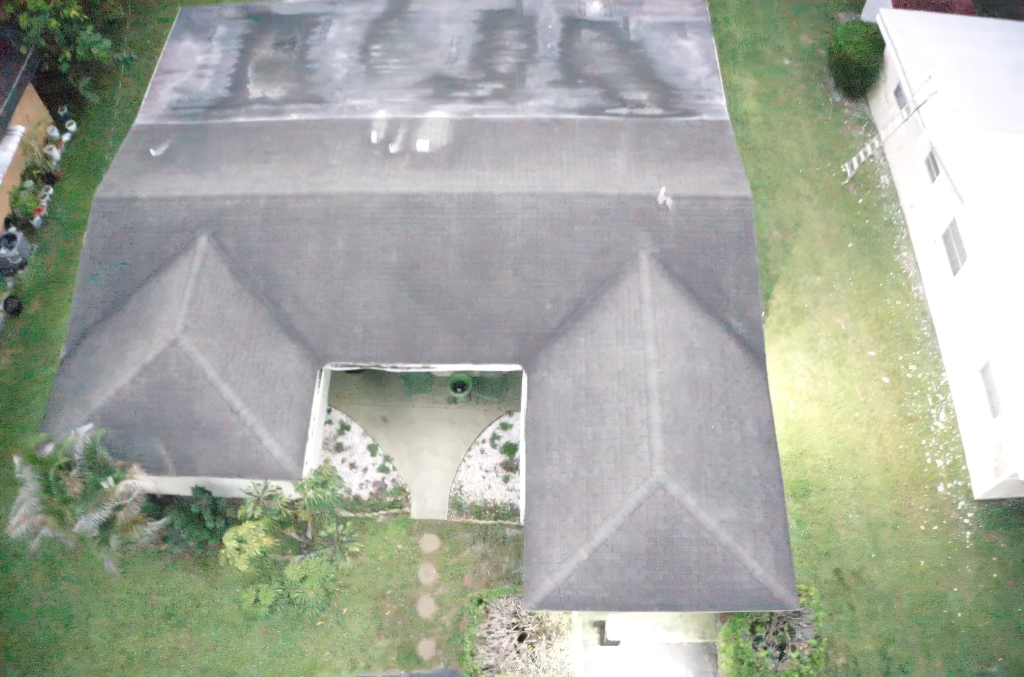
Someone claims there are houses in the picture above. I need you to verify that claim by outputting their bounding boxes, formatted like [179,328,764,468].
[34,0,804,617]
[863,11,1024,501]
